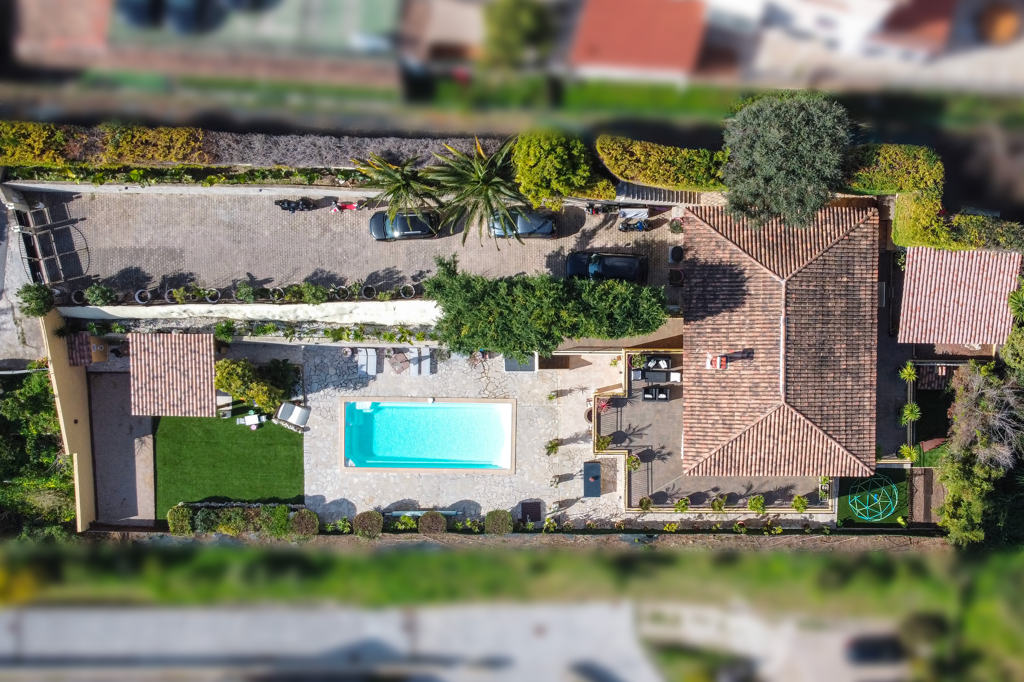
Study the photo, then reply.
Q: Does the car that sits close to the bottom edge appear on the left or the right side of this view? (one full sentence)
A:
It is on the right.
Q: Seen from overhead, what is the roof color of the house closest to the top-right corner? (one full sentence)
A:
The color of the roof on the house closest to the top-right corner is red.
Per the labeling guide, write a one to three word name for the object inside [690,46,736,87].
shed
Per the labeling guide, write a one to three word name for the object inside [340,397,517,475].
swimming pool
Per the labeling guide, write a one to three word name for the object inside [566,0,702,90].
house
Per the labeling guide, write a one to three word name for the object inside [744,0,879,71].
building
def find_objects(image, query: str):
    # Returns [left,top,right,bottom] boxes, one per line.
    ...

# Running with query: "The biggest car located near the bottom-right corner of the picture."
[828,628,898,666]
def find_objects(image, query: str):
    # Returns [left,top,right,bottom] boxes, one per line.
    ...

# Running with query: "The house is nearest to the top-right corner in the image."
[854,0,953,79]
